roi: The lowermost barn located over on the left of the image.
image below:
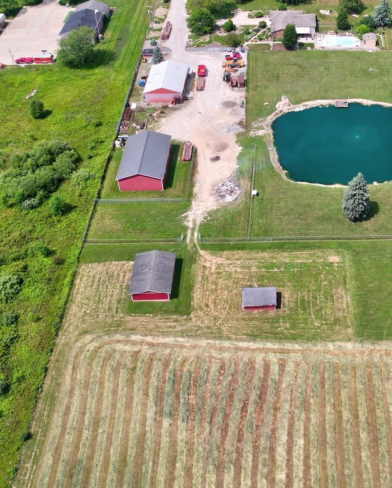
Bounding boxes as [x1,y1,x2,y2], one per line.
[128,251,176,301]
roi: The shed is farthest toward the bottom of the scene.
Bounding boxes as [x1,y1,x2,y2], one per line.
[243,286,277,311]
